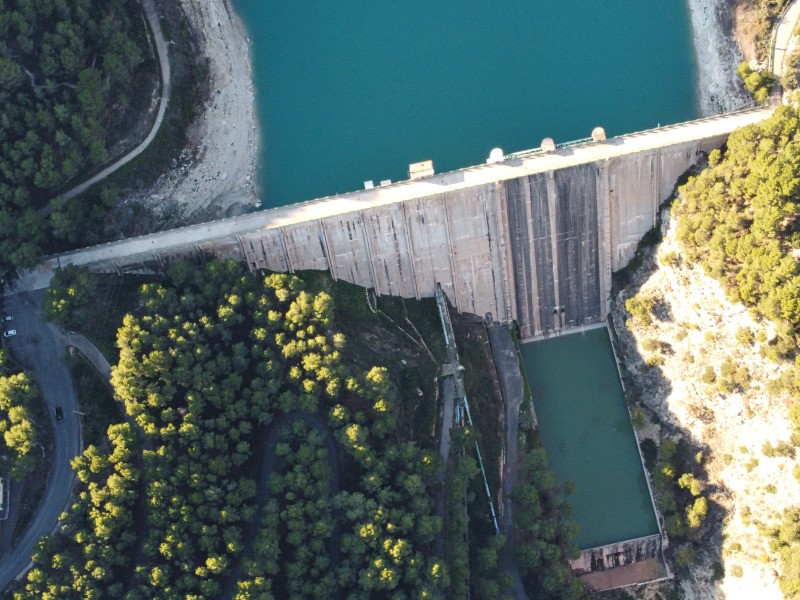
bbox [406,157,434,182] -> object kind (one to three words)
house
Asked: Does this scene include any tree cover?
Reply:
Yes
